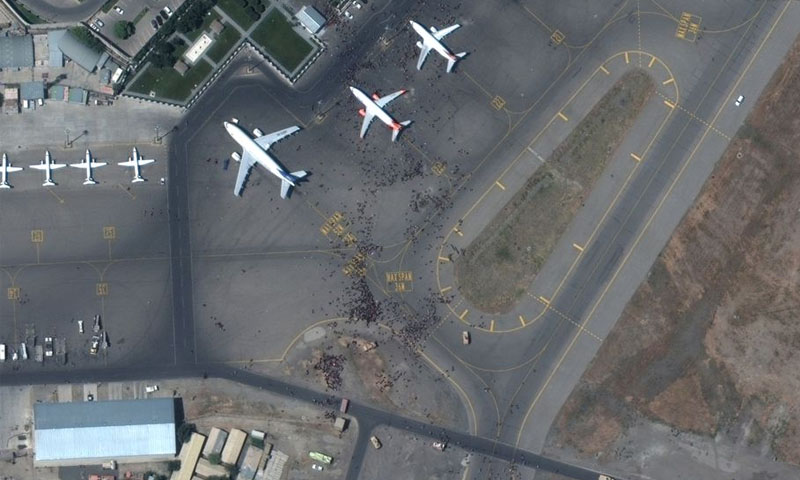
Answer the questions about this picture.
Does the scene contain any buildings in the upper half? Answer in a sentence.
Yes, a building appears in the upper half.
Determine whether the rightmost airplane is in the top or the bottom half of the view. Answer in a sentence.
It is in the top half that the rightmost airplane appears.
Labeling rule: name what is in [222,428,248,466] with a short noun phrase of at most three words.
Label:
house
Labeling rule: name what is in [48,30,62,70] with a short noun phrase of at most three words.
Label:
shed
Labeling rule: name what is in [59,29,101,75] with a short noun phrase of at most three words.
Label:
building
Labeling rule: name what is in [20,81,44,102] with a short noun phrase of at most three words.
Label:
building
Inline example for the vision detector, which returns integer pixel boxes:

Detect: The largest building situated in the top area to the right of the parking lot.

[299,5,327,35]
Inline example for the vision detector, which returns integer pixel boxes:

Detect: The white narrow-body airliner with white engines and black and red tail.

[409,22,466,69]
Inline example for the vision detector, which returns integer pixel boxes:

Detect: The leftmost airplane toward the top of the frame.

[0,153,23,185]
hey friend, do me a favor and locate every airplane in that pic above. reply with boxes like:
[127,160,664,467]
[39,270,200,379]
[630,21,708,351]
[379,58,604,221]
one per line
[117,149,155,180]
[350,88,410,138]
[30,152,66,183]
[70,150,107,182]
[223,124,308,197]
[409,22,466,69]
[0,153,23,185]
